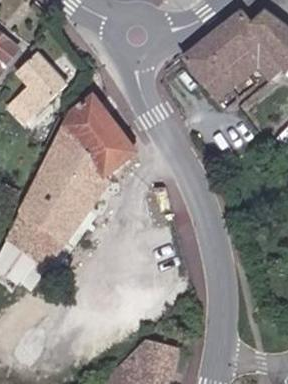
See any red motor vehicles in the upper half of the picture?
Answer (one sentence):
No, the scene shows no red motor vehicle in the upper half of the picture.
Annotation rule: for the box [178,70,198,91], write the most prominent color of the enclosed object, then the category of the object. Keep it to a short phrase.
white vehicle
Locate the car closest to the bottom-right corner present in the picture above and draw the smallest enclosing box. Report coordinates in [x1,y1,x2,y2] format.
[158,257,181,270]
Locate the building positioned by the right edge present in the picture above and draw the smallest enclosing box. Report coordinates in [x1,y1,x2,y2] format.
[184,8,288,112]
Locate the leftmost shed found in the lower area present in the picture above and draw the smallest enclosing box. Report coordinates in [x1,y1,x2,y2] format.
[0,242,20,276]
